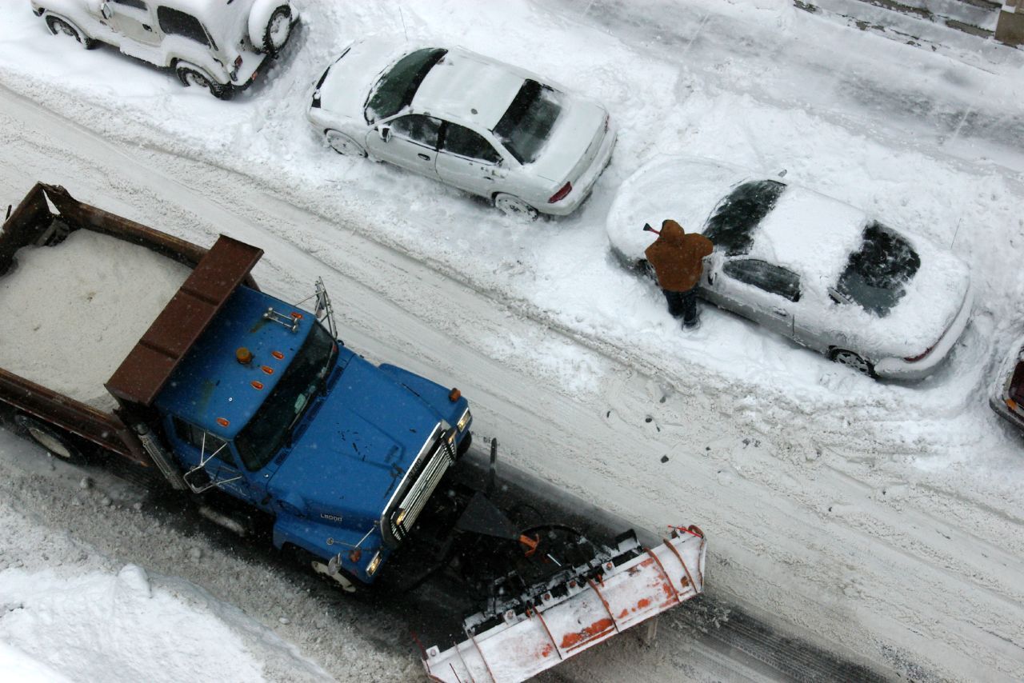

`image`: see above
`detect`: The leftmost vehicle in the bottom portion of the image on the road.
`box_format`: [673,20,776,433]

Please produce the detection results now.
[0,181,702,683]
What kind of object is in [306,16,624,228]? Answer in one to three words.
car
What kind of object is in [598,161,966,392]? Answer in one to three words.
car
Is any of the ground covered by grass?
No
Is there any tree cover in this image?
No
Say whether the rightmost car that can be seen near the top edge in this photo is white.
Yes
